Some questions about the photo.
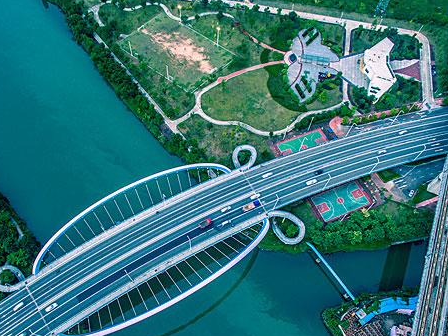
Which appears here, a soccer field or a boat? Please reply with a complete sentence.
The image shows a soccer field.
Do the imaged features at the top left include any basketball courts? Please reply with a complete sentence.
No, there's no basketball court to be seen at the top left.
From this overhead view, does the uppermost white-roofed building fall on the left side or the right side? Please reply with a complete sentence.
It is on the right.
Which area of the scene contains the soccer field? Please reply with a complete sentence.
The soccer field appears toward the top of the photo.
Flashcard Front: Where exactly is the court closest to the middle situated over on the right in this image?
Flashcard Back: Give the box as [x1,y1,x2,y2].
[270,125,330,158]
